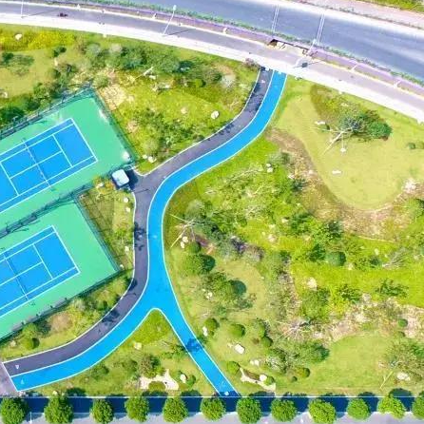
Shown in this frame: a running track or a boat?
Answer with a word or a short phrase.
running track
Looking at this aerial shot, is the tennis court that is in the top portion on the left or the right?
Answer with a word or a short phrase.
left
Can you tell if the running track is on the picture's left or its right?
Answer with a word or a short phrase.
left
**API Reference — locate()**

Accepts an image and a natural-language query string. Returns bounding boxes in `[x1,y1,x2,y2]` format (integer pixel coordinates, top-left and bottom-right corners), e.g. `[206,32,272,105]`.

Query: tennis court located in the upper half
[0,85,135,231]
